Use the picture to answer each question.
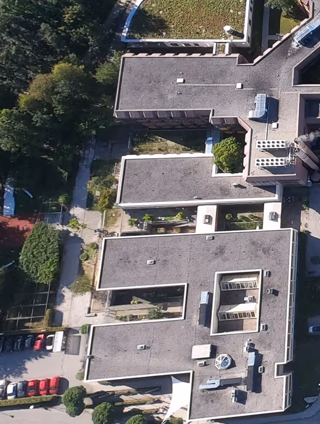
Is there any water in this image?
No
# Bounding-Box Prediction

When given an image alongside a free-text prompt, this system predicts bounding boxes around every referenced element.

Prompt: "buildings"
[115,0,320,185]
[85,229,304,422]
